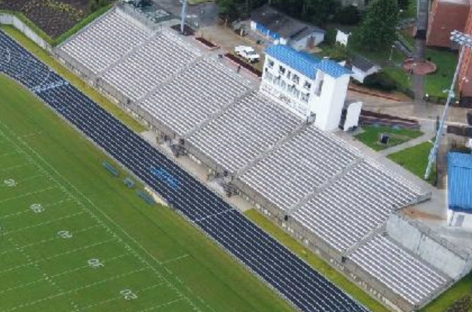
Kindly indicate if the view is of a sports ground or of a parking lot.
sports ground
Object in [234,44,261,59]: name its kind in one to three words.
vehicle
